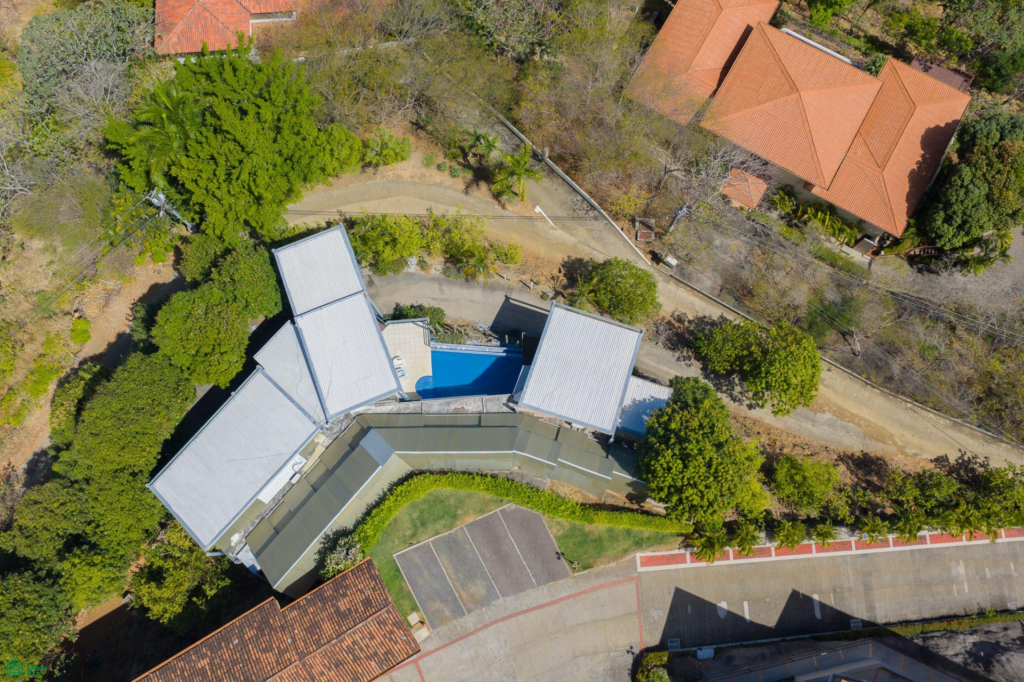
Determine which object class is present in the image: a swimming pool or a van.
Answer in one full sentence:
Looking from above, you can make out a swimming pool.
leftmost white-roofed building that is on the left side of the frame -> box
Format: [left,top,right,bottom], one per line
[143,220,411,555]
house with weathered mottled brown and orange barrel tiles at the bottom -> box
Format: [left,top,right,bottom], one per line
[128,558,420,682]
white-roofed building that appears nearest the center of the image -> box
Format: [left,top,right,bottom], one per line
[510,298,673,444]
